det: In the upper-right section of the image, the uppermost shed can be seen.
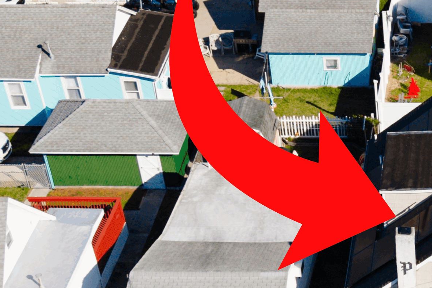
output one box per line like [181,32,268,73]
[258,0,379,84]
